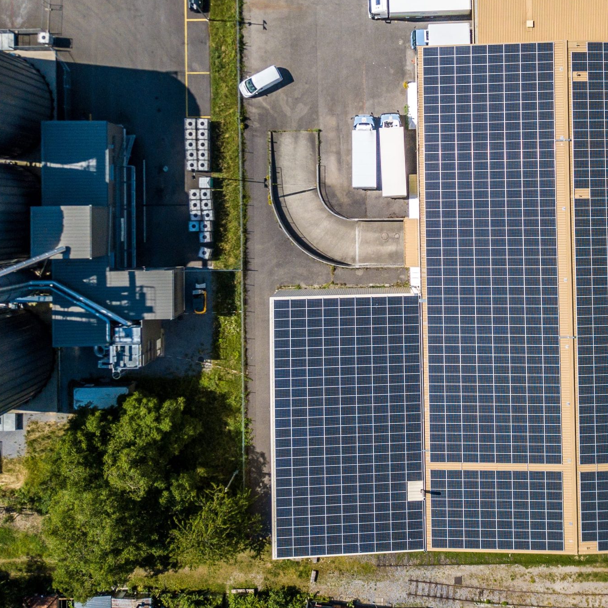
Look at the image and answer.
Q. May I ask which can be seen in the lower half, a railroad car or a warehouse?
warehouse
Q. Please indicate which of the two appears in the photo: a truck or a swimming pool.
truck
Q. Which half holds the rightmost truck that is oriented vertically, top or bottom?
top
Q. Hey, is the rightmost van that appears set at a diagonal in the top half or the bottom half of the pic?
top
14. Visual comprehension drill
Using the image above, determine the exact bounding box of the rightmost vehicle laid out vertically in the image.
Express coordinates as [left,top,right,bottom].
[374,112,406,197]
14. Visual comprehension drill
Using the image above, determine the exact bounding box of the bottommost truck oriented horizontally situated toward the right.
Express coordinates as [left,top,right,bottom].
[408,23,470,54]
